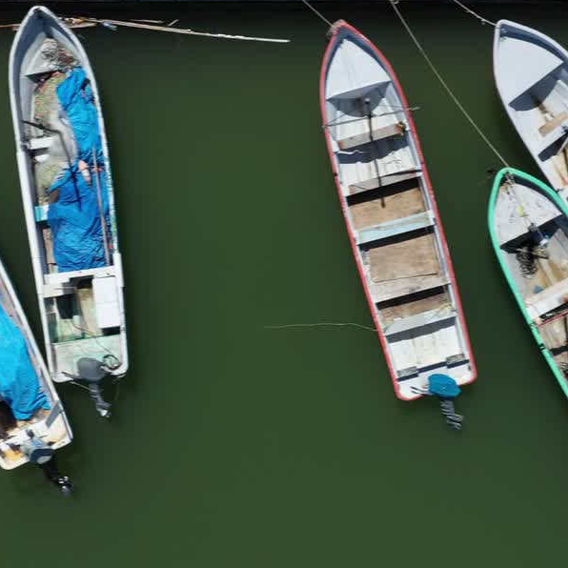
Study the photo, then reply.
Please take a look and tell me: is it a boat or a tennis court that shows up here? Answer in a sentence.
The one in the frame is a boat.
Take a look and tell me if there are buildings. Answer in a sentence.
No, I can see no building in this picture.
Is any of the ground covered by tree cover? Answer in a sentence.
No, the picture contains no tree cover.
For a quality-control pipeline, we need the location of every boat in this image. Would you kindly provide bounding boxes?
[318,20,475,426]
[0,255,75,494]
[492,166,568,393]
[492,18,568,204]
[11,6,130,417]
